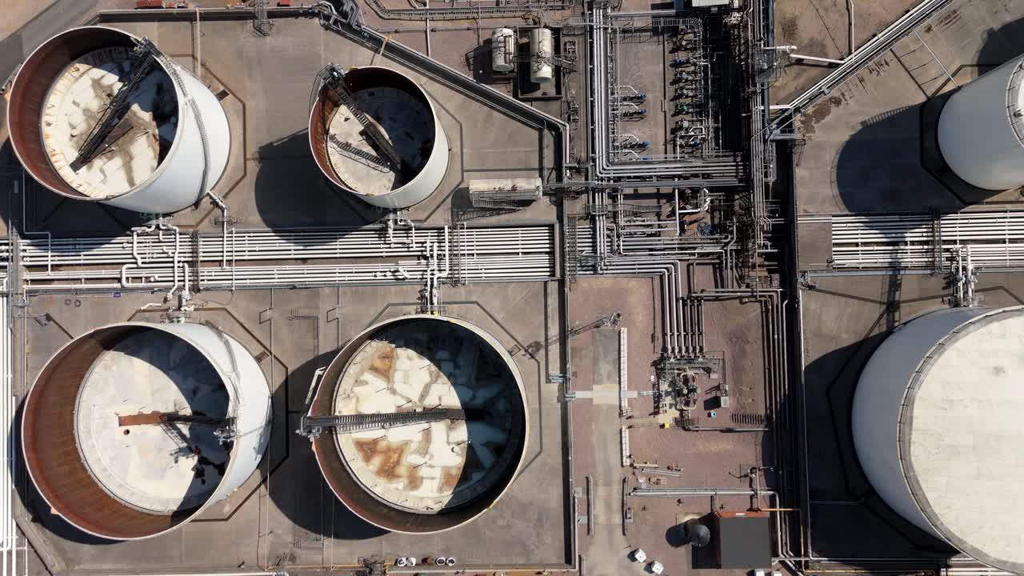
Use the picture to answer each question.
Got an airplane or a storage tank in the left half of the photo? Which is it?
storage tank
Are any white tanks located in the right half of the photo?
Yes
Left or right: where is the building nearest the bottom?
right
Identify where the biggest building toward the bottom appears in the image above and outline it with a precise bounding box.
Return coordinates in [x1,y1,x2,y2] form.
[714,507,771,569]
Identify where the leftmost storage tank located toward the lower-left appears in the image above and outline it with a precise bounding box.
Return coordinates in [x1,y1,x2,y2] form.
[21,319,273,540]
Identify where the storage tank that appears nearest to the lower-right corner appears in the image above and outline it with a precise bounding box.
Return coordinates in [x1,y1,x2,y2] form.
[849,305,1024,576]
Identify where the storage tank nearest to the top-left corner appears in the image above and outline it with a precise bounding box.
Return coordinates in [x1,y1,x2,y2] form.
[6,26,233,214]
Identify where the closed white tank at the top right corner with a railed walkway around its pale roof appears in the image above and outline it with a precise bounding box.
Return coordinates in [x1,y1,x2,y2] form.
[937,51,1024,191]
